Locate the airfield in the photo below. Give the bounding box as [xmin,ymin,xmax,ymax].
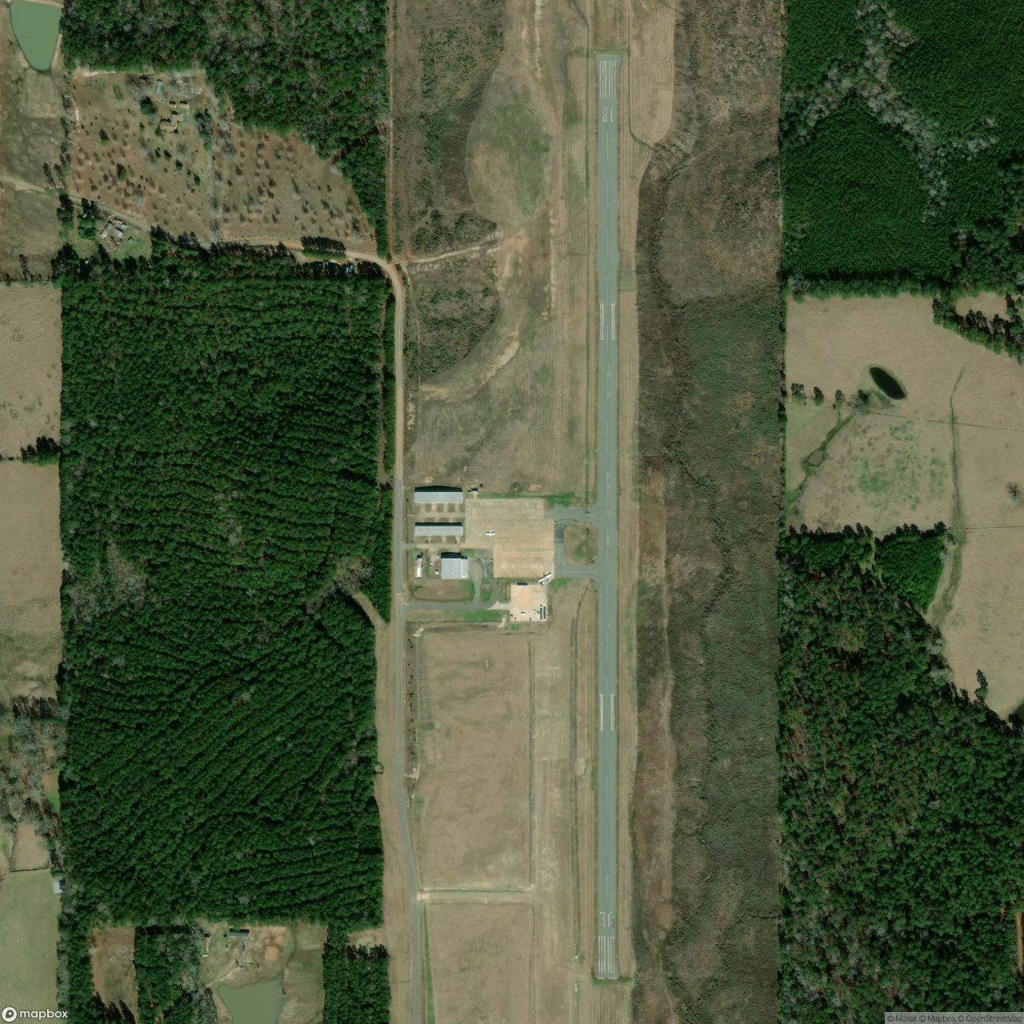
[466,52,622,979]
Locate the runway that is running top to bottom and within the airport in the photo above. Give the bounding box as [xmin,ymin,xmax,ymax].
[594,52,622,979]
